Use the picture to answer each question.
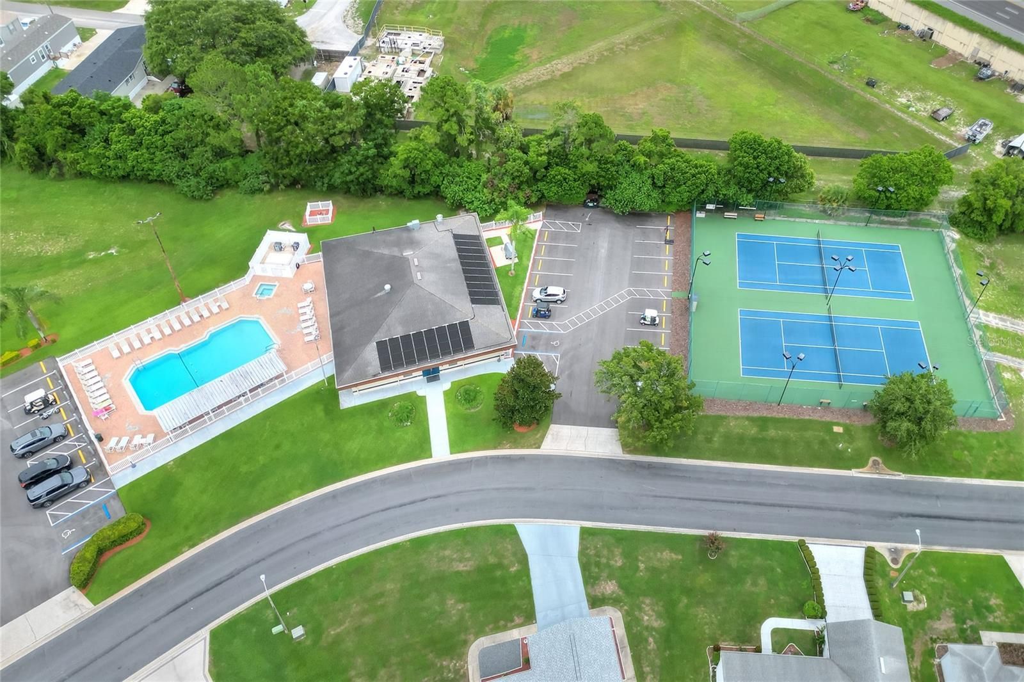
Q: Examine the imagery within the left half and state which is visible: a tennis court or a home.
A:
home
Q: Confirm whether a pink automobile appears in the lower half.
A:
No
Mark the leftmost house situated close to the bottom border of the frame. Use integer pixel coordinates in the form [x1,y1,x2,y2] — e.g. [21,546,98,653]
[485,616,621,682]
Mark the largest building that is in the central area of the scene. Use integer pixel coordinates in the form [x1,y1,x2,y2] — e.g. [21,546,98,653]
[317,213,521,403]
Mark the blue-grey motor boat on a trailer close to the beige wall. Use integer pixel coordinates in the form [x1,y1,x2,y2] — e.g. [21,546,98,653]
[979,64,996,80]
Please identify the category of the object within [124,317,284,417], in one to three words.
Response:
swimming pool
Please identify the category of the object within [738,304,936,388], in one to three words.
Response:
tennis court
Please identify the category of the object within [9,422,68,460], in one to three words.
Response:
car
